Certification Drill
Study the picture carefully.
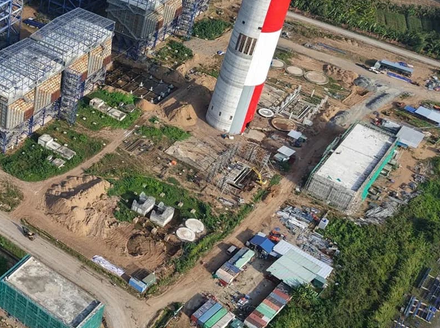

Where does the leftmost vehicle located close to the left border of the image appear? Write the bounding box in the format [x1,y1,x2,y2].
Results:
[16,226,37,239]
